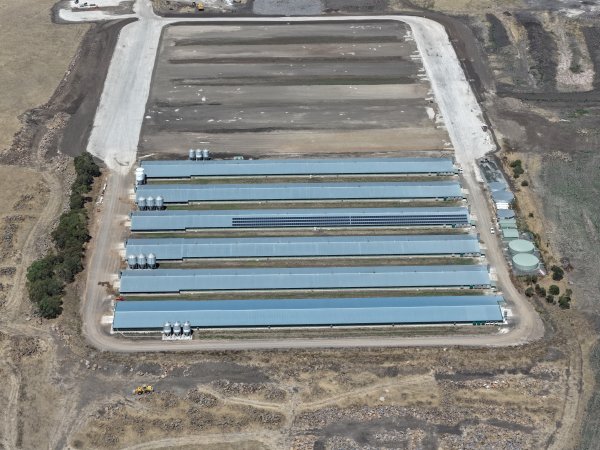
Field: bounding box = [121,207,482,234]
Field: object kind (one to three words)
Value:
shed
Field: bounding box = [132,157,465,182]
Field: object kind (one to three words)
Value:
shed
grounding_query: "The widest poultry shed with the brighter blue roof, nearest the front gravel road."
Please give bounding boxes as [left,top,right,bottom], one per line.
[103,296,521,333]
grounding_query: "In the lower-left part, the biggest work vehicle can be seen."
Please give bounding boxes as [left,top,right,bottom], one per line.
[131,382,152,395]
